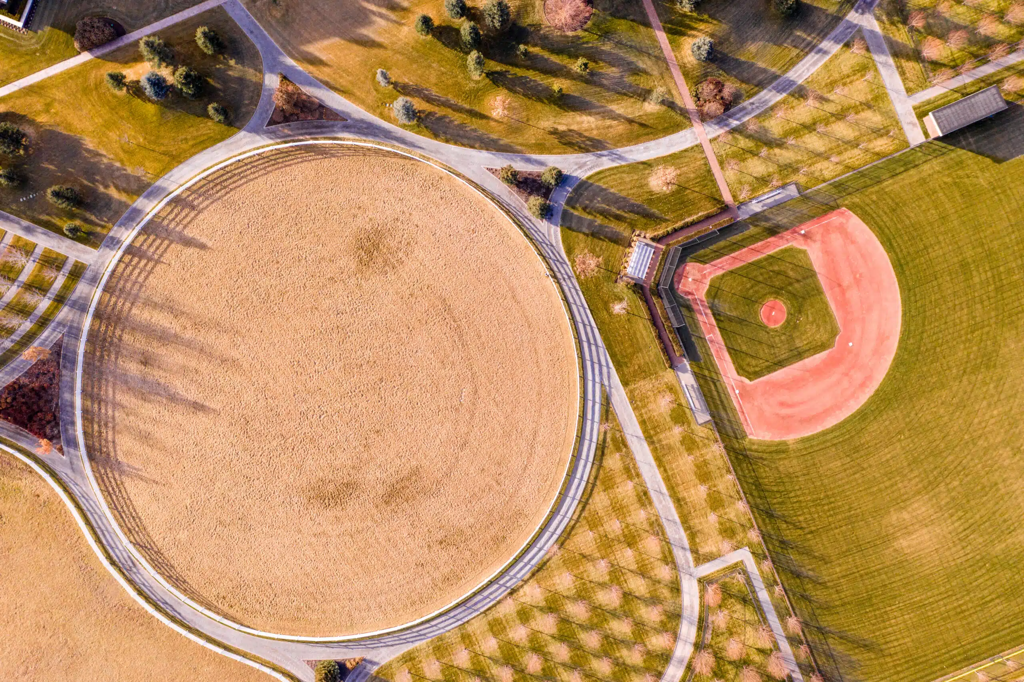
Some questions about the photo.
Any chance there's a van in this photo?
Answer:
No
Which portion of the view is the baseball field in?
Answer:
right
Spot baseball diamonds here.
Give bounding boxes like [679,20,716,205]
[661,99,1024,682]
